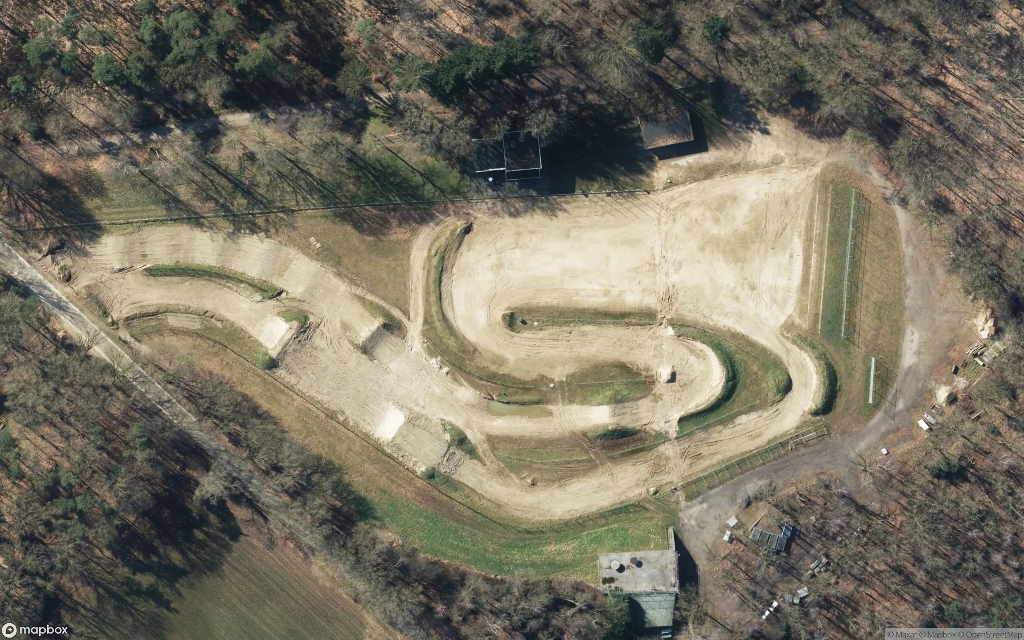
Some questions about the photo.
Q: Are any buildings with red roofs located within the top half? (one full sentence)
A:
No, looking within the top half, there is no building with a red roof.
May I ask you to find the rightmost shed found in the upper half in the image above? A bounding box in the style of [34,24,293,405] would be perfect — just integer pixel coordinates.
[639,106,694,149]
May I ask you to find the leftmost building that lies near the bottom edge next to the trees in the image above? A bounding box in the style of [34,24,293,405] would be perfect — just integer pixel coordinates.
[599,526,682,628]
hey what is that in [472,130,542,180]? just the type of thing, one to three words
building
